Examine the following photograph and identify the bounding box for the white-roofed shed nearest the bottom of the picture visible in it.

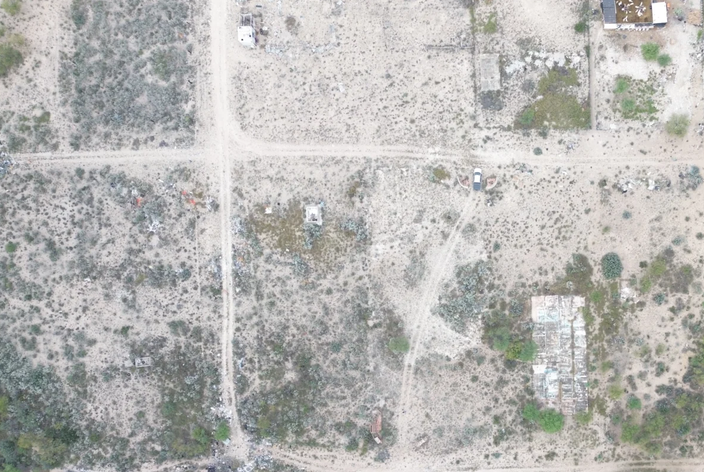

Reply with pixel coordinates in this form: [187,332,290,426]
[237,26,255,46]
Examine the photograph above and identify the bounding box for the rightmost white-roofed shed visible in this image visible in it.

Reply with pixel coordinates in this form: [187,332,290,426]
[650,2,668,26]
